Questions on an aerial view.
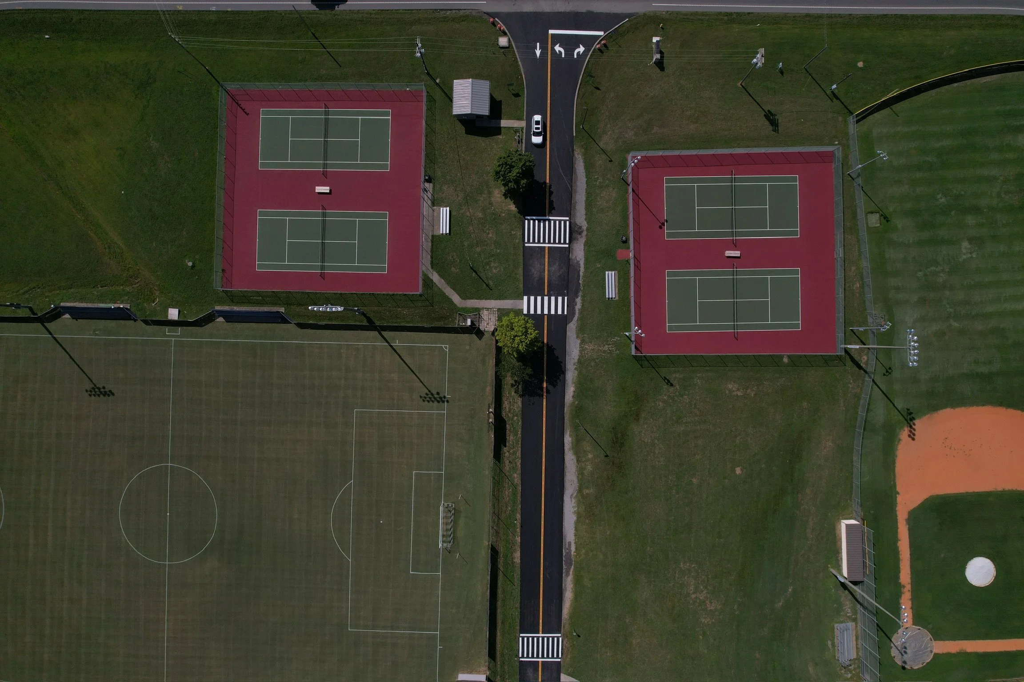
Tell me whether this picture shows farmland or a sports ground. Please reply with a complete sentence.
This looks like a sports ground.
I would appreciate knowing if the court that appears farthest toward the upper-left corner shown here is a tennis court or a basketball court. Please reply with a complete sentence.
From above, the court that appears farthest toward the upper-left corner can be identified as a tennis court.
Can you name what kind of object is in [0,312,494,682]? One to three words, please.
soccer field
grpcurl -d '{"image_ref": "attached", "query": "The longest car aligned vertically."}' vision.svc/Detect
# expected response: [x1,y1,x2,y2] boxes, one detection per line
[531,115,544,144]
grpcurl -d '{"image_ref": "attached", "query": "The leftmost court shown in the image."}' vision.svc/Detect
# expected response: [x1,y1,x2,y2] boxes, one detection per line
[221,90,426,294]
